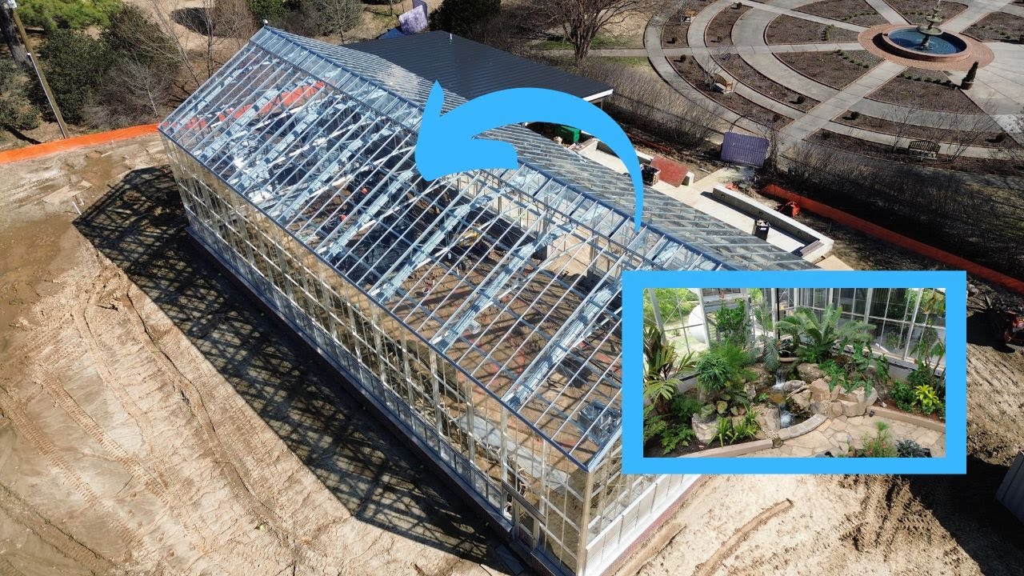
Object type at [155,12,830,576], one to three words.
greenhouse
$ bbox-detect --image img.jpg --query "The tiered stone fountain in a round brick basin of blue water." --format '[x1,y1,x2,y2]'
[858,0,995,71]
